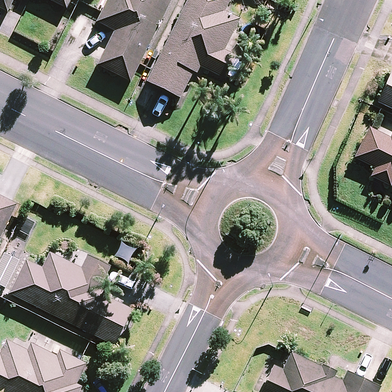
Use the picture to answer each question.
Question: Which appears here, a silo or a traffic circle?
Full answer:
The image shows a traffic circle.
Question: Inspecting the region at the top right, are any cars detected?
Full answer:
No, no car is visible at the top right.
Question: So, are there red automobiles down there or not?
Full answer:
No, this view has no red automobile in it.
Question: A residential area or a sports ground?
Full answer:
The area seen from above is a residential area.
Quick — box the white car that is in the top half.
[84,30,106,47]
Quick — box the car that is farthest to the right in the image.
[374,358,392,383]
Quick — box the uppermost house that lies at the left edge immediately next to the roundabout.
[5,252,133,343]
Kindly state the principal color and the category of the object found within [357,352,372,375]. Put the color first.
white car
